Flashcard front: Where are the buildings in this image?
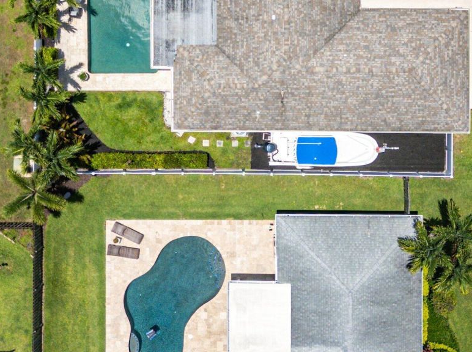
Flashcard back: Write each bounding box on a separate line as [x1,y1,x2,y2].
[149,0,471,133]
[227,213,424,352]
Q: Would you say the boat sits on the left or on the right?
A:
right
